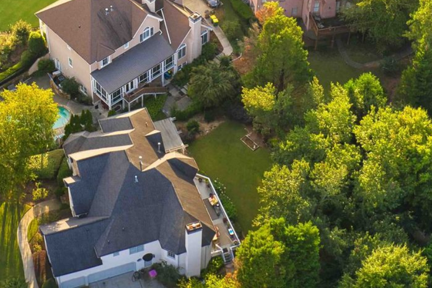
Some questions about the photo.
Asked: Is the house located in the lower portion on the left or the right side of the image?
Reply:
left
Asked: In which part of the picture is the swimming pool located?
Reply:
left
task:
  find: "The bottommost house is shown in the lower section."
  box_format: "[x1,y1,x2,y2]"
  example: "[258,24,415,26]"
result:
[42,105,240,288]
